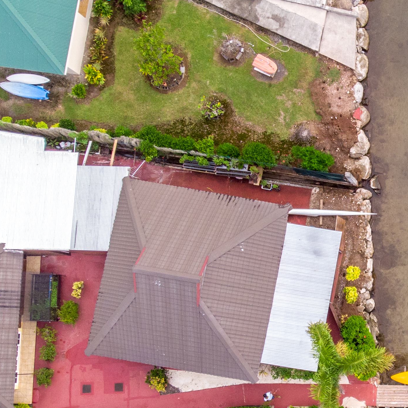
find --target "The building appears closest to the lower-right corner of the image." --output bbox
[83,175,349,383]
